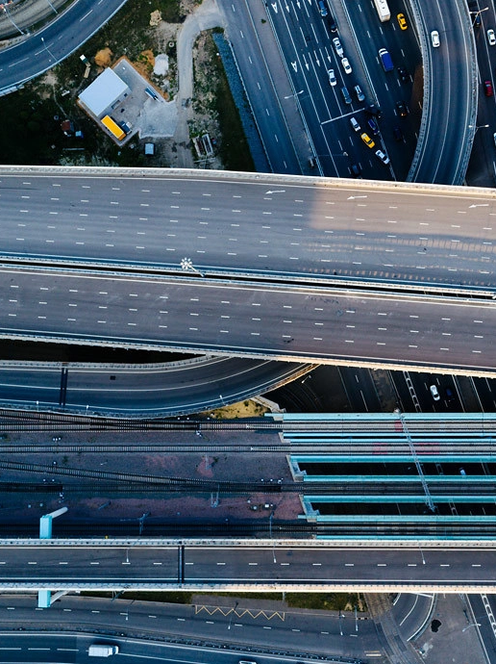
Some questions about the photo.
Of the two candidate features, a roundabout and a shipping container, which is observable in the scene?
shipping container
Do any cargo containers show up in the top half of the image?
Yes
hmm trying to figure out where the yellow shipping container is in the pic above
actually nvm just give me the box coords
[101,115,128,143]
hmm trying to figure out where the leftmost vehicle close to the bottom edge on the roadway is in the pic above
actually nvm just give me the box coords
[86,645,118,659]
